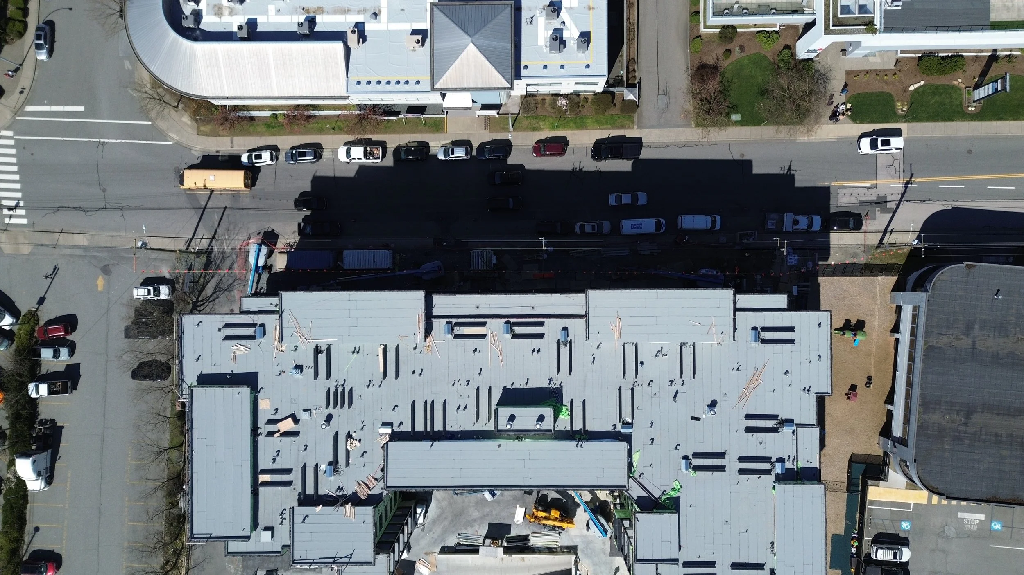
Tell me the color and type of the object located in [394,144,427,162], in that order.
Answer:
black car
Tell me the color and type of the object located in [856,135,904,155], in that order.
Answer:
white car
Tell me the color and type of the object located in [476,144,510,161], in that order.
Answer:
black car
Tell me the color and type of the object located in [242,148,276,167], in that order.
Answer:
white car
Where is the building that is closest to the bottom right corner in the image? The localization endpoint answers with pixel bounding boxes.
[878,260,1024,508]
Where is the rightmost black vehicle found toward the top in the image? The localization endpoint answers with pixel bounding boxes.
[826,212,863,230]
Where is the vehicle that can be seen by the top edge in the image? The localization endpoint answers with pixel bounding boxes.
[33,24,54,62]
